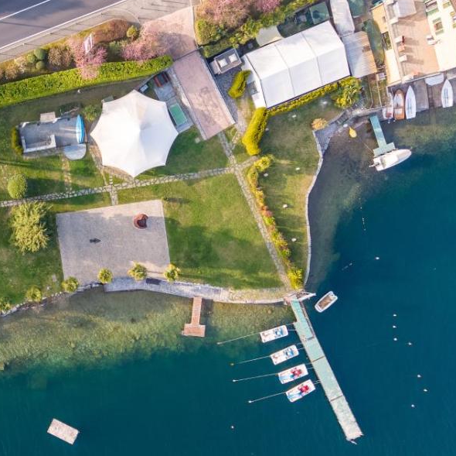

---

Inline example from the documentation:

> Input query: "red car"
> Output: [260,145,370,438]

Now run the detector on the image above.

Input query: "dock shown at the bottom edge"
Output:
[291,297,363,445]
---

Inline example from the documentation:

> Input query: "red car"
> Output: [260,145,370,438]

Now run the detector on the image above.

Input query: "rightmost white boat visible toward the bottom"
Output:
[318,292,339,310]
